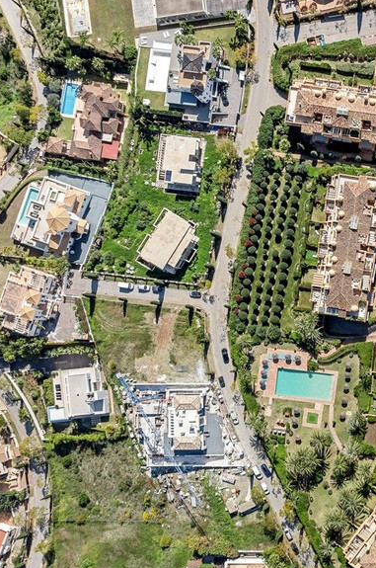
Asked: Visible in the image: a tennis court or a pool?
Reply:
pool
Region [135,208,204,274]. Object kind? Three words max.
house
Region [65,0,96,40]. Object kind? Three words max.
house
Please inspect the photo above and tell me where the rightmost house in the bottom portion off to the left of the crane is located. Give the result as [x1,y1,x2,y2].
[52,366,116,427]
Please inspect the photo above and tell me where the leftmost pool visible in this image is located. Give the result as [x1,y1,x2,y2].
[19,187,39,227]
